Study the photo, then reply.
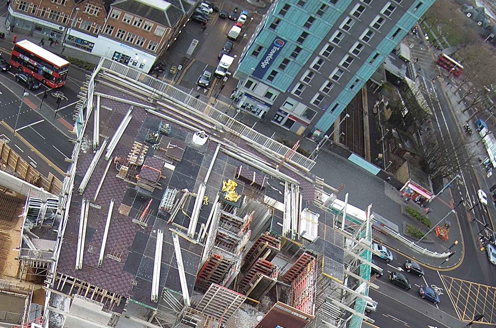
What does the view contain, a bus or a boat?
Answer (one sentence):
The one in the frame is a bus.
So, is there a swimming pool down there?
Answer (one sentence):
No, I find no swimming pool anywhere in the image.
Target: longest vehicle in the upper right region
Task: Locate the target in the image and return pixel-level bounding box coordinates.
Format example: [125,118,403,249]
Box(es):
[437,52,466,77]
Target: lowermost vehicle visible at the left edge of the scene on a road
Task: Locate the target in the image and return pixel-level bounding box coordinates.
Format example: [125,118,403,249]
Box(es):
[15,72,42,88]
